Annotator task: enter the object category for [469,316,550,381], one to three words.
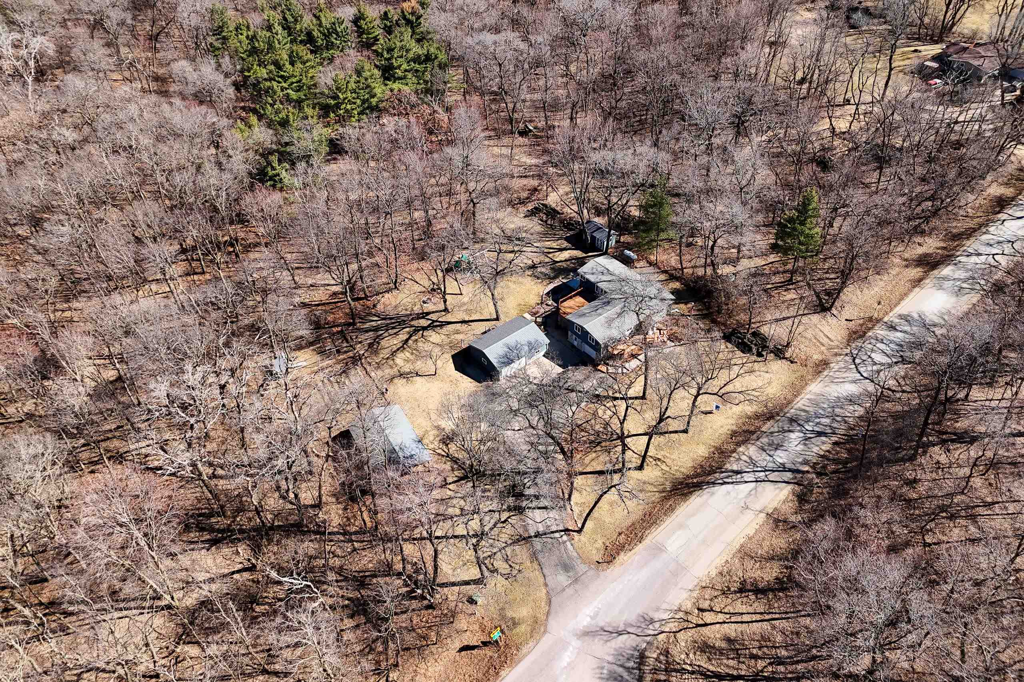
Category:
building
